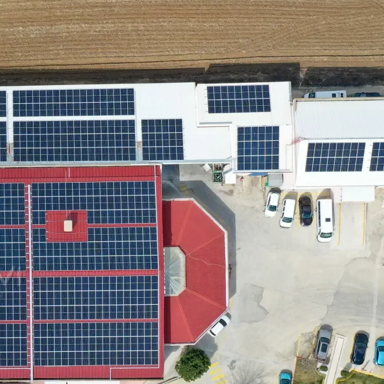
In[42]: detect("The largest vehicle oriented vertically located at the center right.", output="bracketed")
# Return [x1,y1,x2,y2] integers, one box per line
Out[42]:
[315,199,333,241]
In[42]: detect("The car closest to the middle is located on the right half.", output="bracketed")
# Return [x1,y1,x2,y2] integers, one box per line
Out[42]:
[264,189,279,217]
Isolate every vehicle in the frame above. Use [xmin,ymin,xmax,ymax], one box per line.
[374,338,384,364]
[299,196,314,226]
[279,198,297,229]
[351,87,381,100]
[264,189,279,217]
[208,312,234,340]
[278,371,290,384]
[352,333,367,363]
[303,86,350,100]
[316,330,331,360]
[315,199,333,241]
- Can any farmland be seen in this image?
Yes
